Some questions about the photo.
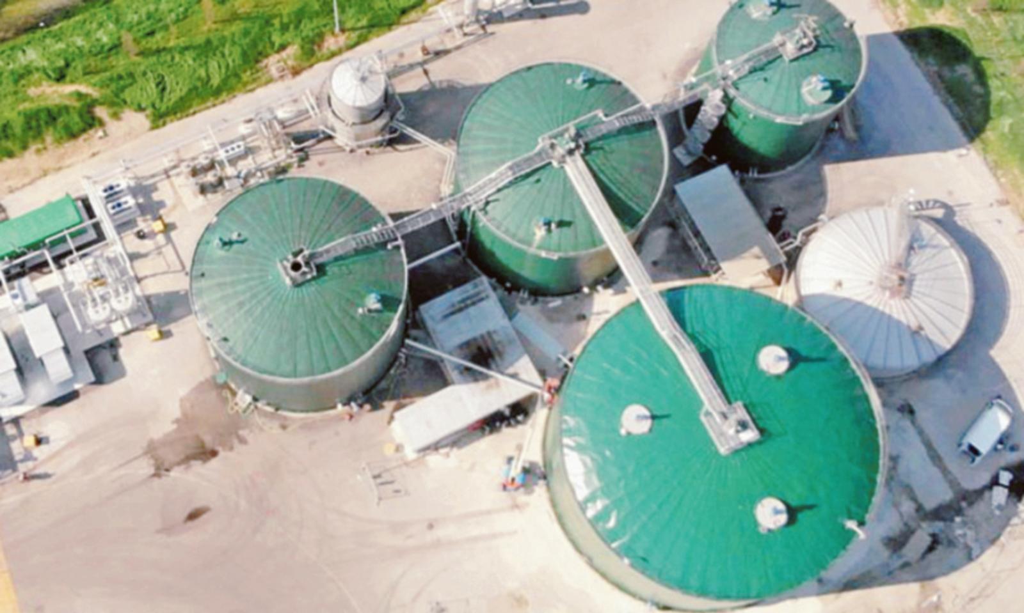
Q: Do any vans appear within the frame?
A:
Yes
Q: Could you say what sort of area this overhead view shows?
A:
industrial area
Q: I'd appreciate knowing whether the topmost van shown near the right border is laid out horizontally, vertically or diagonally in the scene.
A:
diagonally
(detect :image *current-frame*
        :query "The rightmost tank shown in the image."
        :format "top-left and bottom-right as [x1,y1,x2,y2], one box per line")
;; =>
[785,194,976,382]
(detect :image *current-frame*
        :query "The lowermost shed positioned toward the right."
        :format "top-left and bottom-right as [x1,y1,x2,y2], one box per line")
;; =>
[671,164,786,284]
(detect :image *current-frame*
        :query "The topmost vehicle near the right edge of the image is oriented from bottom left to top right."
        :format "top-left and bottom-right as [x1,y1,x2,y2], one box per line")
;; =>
[954,397,1014,466]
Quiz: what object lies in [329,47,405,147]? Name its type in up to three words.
storage tank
